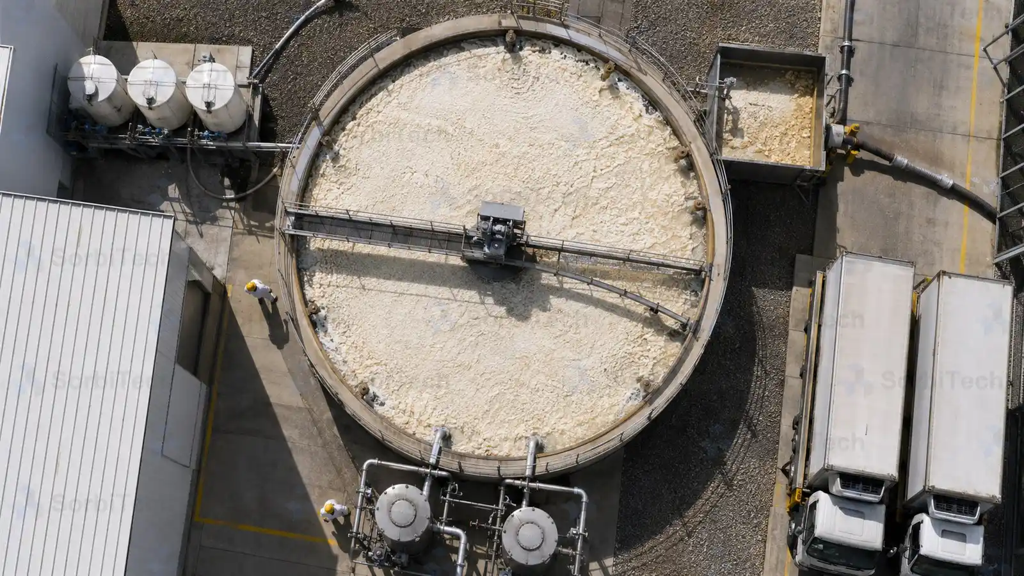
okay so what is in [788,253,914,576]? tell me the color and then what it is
white truck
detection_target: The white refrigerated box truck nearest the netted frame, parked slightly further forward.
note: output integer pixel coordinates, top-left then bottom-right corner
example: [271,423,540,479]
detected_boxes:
[883,272,1013,576]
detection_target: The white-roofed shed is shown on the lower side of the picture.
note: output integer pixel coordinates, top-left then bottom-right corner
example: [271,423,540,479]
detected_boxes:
[0,189,222,576]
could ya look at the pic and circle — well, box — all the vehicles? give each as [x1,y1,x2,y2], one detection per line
[883,272,1013,576]
[788,253,914,576]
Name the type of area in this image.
industrial area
